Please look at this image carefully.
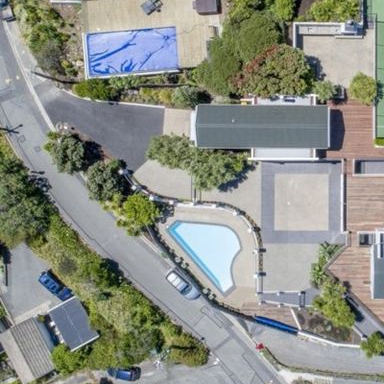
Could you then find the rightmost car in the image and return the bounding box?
[164,265,202,301]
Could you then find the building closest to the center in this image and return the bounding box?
[195,92,330,160]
